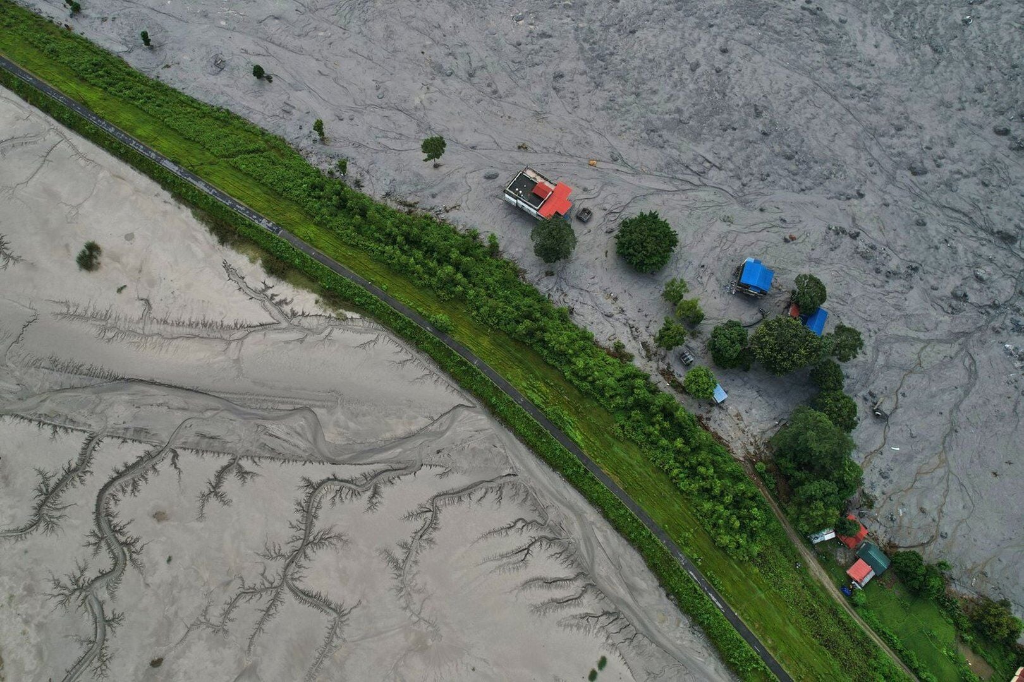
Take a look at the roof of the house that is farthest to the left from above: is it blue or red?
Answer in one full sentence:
In this view, the roof of the house that is farthest to the left is red.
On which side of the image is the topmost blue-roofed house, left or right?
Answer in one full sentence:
The topmost blue-roofed house is on the right side of the image.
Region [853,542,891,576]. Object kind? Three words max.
building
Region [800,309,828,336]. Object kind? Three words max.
house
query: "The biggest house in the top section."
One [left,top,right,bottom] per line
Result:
[505,167,572,223]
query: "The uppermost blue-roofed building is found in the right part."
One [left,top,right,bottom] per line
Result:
[735,257,773,298]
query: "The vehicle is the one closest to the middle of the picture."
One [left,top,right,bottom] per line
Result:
[577,208,591,223]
